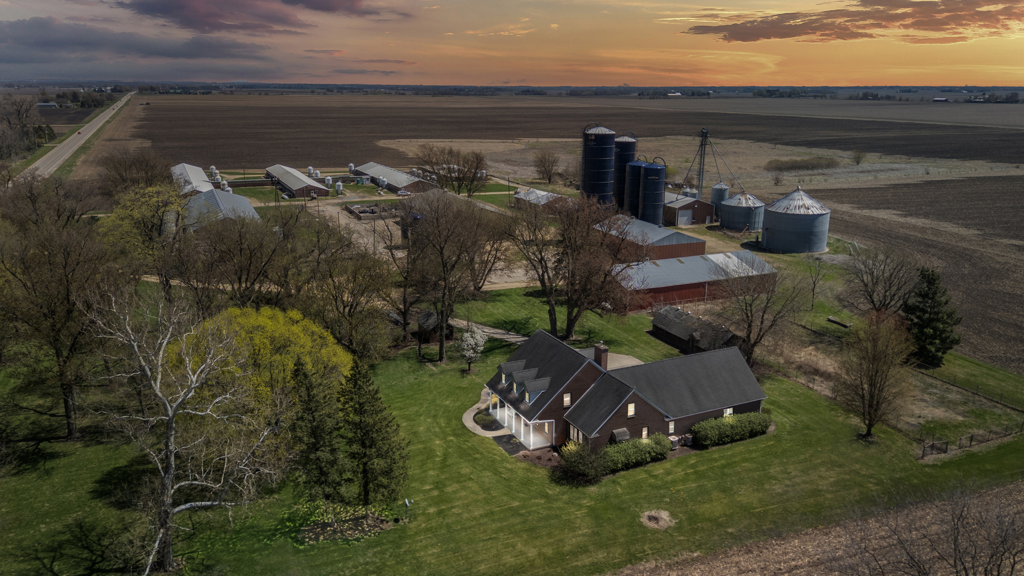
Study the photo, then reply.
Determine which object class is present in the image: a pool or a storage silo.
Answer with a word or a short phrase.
storage silo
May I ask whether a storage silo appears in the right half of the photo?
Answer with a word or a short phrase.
Yes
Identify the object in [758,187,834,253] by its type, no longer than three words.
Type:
silo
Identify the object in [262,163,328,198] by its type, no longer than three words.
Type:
barn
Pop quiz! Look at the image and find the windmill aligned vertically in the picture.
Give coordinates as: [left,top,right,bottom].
[268,173,285,215]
